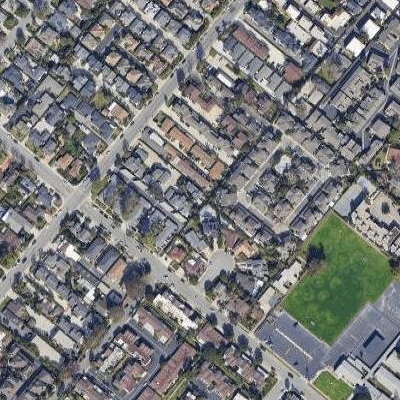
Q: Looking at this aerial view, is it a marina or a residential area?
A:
residential area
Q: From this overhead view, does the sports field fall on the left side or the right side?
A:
right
